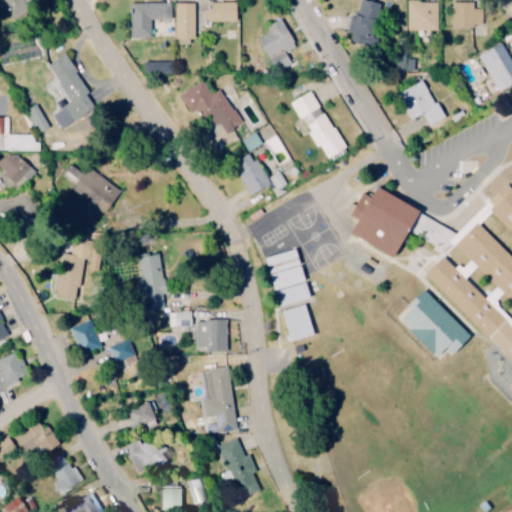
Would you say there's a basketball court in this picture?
Yes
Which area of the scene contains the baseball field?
bottom right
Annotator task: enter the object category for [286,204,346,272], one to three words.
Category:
basketball court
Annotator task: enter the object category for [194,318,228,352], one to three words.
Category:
house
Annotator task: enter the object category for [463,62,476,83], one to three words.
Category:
swimming pool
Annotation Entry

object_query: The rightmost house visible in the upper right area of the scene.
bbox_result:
[478,40,512,94]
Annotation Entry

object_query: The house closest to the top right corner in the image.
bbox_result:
[454,1,486,30]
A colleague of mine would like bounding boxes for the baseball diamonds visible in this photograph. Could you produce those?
[356,476,418,512]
